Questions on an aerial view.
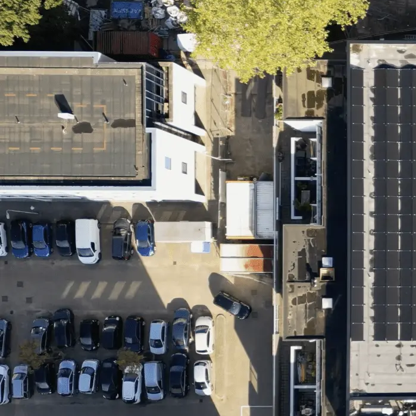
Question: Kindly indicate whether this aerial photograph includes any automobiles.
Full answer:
Yes, I can see an automobile in this picture.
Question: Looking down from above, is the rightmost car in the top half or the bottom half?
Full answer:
It is in the bottom half that the rightmost car appears.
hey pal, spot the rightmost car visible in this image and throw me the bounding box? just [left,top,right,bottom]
[211,290,254,319]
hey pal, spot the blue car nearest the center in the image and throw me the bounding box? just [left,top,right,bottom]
[135,220,157,255]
